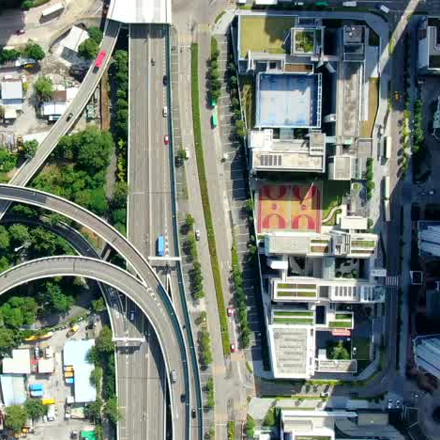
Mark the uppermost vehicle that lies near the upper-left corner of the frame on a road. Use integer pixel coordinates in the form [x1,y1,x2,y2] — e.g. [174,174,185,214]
[42,2,63,18]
